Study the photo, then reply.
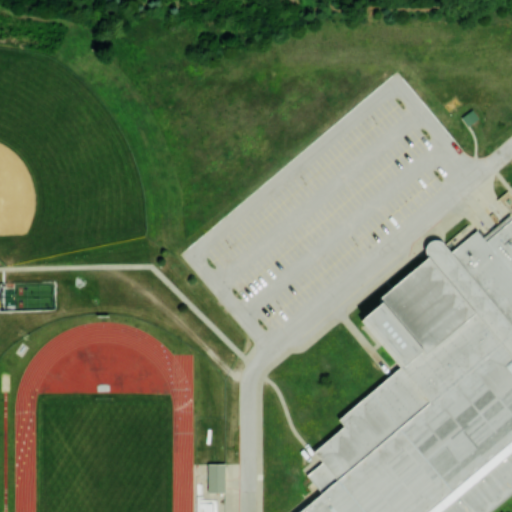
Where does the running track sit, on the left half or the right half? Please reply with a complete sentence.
It is on the left.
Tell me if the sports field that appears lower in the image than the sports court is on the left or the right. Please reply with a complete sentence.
The sports field that appears lower in the image than the sports court sits on the left side.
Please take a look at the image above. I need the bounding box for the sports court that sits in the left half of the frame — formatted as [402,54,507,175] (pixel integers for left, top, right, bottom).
[0,280,58,314]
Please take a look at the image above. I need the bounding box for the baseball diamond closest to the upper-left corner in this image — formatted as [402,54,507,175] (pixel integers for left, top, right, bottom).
[0,47,146,266]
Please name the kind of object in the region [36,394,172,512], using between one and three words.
sports field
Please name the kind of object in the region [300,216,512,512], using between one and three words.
building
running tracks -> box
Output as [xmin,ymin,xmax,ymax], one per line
[16,322,194,512]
